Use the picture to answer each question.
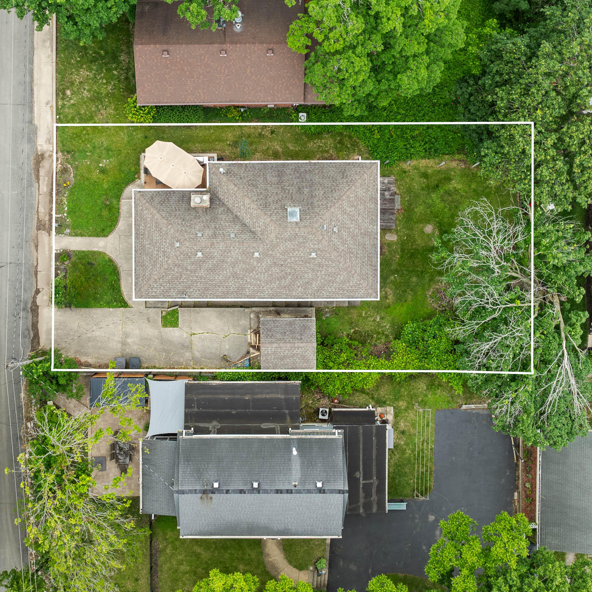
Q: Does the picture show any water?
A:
No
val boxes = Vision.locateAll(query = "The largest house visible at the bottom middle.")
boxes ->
[139,378,388,539]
